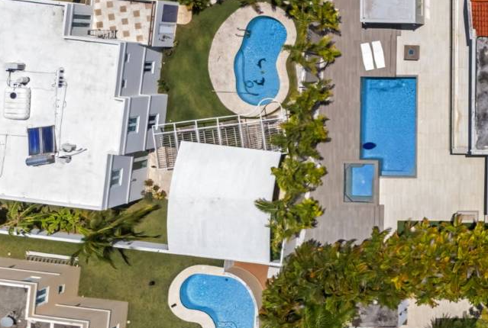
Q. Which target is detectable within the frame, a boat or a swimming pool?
swimming pool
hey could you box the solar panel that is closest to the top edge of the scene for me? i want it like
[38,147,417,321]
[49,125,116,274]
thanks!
[161,5,180,23]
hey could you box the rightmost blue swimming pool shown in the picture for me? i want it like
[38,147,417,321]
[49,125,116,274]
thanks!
[359,76,418,178]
